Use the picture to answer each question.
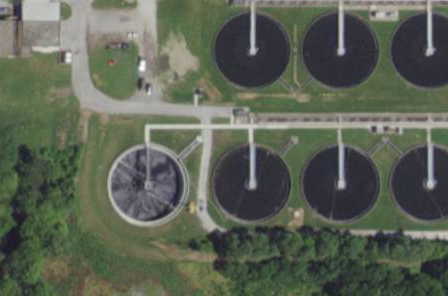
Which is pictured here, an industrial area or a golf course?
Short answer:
industrial area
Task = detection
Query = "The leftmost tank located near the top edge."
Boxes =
[214,0,290,89]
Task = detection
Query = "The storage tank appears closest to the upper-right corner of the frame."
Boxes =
[391,0,448,88]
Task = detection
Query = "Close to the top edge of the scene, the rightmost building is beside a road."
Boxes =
[22,0,60,56]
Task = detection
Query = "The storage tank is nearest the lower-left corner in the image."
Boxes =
[106,129,188,226]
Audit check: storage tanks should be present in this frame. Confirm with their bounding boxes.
[214,0,290,89]
[391,0,448,88]
[302,0,380,89]
[212,128,290,224]
[106,129,188,226]
[390,128,448,224]
[300,128,380,224]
